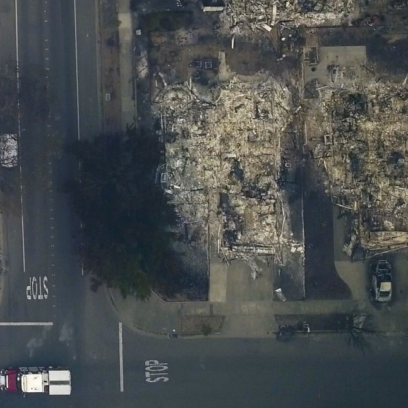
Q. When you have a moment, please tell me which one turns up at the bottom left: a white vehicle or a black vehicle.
white vehicle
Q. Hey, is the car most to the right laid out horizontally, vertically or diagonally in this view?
vertically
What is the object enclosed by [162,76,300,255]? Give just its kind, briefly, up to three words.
house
